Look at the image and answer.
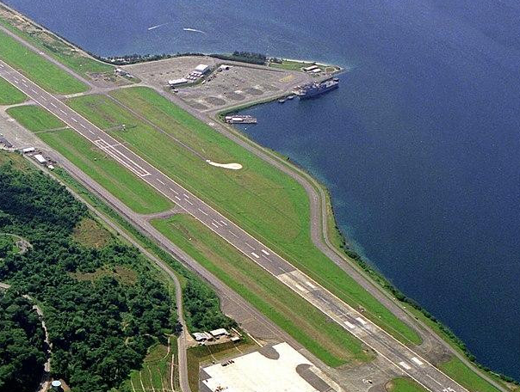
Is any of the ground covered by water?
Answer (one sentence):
Yes, water can be seen from above here.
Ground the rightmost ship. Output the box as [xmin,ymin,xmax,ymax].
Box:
[294,74,340,95]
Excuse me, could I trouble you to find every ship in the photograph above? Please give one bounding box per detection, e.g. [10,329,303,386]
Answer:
[220,114,259,124]
[294,74,340,95]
